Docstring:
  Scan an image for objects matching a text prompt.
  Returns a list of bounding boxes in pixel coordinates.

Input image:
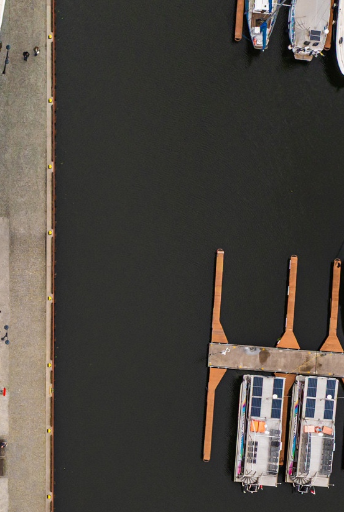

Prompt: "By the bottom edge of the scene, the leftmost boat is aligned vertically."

[232,373,290,492]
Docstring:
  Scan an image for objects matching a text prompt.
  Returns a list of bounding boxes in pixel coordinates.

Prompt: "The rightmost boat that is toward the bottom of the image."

[285,374,344,493]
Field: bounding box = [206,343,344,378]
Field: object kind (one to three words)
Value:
pier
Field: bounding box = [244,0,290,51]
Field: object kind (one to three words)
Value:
boat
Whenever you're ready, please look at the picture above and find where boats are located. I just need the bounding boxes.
[232,373,290,492]
[285,0,337,62]
[285,374,344,493]
[331,0,344,80]
[244,0,290,51]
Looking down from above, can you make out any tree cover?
No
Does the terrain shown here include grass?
No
